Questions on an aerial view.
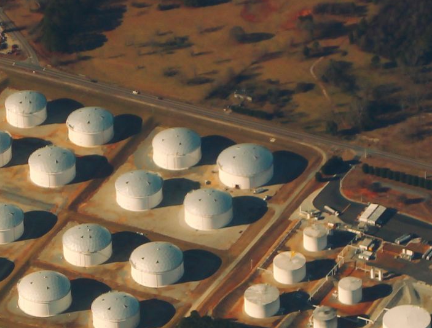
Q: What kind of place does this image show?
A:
industrial area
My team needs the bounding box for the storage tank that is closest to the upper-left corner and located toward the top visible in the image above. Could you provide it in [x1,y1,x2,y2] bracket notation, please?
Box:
[3,90,48,129]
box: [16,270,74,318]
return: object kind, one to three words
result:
storage tank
